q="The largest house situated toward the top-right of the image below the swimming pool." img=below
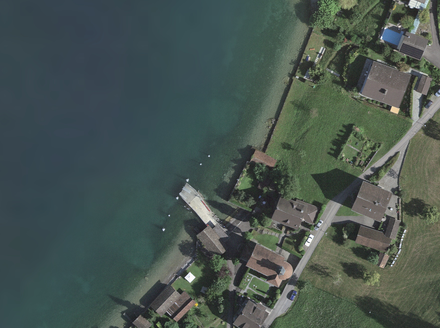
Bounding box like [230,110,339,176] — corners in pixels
[356,58,411,114]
